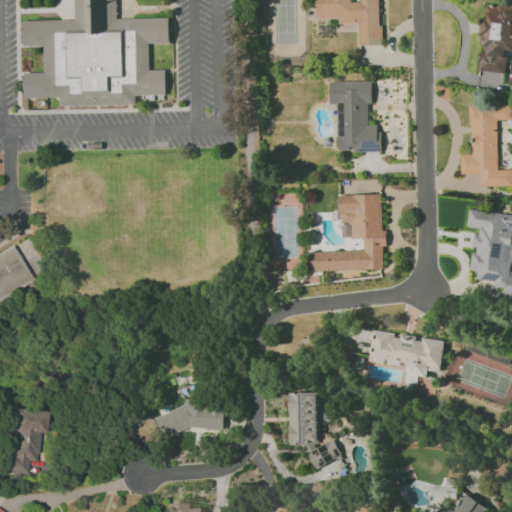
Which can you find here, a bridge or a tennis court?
tennis court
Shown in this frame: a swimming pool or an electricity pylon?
swimming pool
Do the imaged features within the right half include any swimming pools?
Yes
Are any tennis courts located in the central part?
Yes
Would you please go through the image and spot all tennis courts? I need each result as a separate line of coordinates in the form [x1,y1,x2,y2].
[448,350,512,405]
[271,0,310,58]
[271,195,304,272]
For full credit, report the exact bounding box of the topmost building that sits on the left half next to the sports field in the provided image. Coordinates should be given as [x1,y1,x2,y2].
[22,0,168,105]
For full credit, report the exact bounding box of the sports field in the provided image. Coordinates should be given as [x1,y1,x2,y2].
[46,150,247,296]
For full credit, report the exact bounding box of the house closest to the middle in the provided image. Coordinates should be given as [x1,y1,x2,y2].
[312,194,386,272]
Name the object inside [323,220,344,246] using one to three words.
swimming pool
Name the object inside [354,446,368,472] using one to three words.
swimming pool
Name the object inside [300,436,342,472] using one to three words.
building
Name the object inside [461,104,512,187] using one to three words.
house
